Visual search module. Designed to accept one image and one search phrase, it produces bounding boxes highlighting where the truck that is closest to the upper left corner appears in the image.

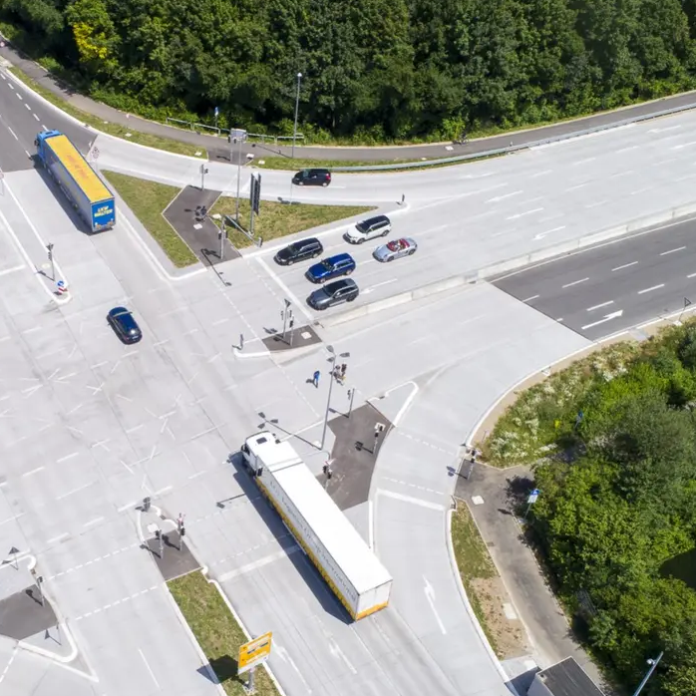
[33,128,116,229]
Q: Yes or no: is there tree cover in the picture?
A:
Yes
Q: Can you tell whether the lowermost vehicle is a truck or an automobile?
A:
truck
